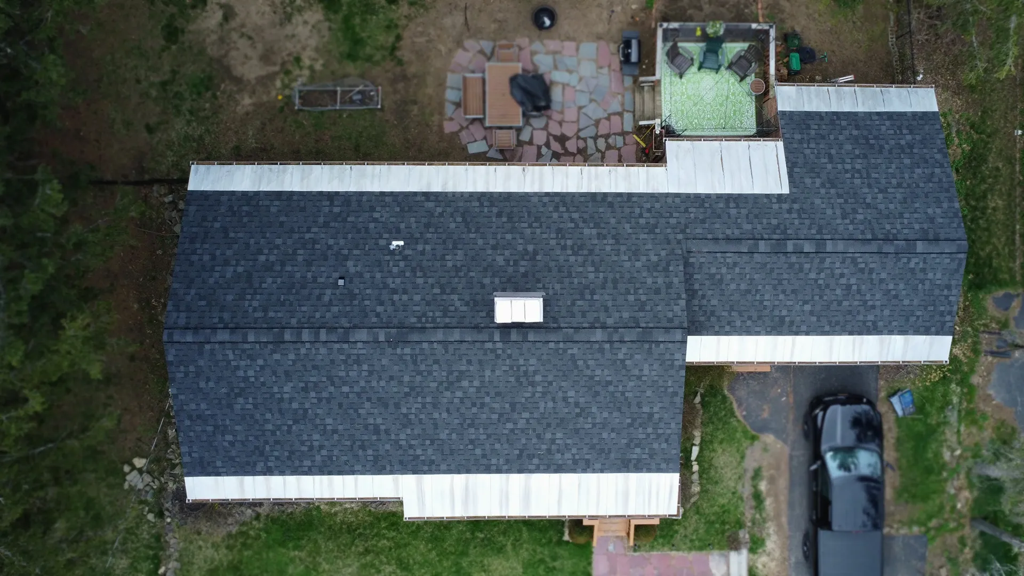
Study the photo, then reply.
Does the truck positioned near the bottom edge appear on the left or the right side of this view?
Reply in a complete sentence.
It is on the right.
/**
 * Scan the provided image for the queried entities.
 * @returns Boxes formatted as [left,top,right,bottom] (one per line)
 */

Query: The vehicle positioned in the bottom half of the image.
[796,388,894,576]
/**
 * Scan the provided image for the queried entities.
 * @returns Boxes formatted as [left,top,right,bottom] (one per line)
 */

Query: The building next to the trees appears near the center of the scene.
[161,81,968,522]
